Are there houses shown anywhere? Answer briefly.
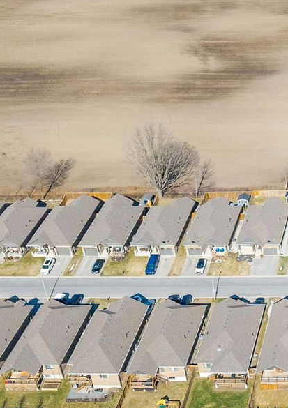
Yes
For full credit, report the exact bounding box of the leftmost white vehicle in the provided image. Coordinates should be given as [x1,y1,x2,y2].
[39,259,53,272]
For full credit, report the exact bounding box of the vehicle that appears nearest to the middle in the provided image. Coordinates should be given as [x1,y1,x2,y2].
[144,257,158,273]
